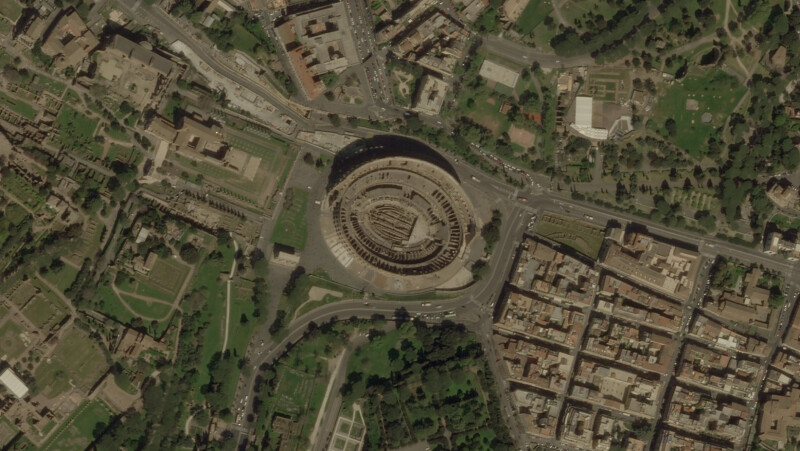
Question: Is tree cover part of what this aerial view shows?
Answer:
Yes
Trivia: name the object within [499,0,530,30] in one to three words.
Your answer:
house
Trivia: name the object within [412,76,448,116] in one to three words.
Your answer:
building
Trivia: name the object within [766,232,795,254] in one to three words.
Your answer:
building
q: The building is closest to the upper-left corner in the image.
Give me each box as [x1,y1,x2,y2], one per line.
[16,16,46,50]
